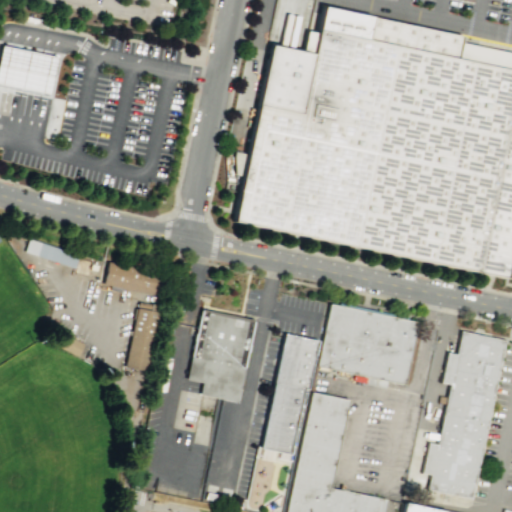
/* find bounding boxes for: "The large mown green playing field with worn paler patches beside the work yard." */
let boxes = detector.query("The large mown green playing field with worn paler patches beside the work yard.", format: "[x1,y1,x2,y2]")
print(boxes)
[0,240,126,512]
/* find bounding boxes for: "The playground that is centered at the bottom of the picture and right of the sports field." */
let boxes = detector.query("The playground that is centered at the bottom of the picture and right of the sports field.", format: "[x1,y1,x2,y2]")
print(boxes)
[243,460,287,510]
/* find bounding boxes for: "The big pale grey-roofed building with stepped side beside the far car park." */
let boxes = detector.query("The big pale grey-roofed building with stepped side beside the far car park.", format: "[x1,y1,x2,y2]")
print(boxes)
[424,330,506,497]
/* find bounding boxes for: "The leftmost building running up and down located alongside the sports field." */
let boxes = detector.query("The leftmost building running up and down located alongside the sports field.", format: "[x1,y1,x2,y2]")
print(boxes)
[126,304,158,372]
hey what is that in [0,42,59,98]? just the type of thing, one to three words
building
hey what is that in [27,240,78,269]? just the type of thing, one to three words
shed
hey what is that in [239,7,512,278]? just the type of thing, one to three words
warehouse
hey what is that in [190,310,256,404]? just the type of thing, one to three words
building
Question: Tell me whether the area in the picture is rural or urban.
urban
